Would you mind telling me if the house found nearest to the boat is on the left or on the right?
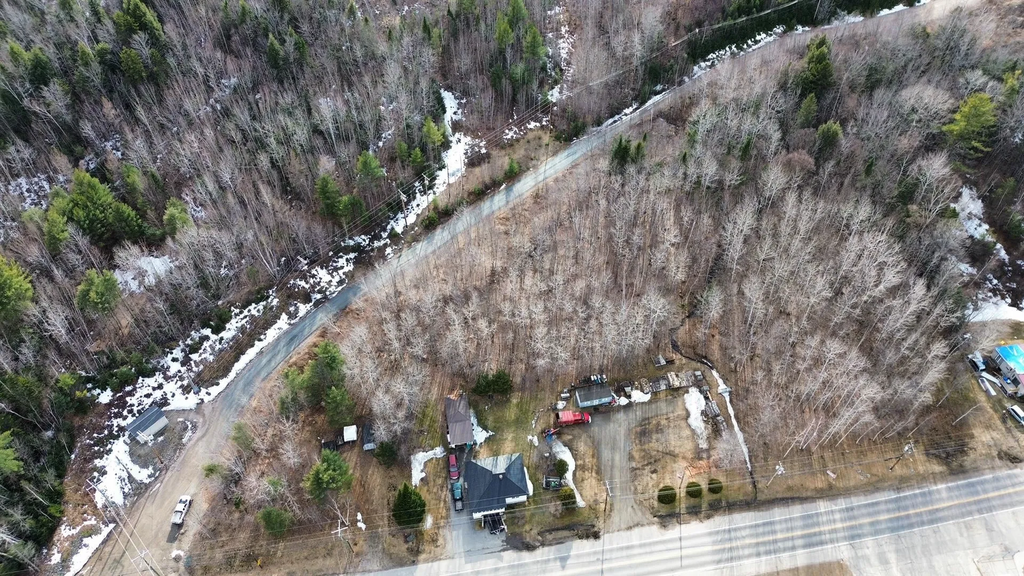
right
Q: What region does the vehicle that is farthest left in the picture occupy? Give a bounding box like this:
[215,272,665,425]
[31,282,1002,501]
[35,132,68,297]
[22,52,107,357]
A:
[167,495,190,526]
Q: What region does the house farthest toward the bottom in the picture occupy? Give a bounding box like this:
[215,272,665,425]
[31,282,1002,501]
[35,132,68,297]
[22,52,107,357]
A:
[465,453,529,525]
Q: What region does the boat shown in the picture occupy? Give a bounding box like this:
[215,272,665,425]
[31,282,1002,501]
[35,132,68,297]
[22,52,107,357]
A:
[980,378,997,394]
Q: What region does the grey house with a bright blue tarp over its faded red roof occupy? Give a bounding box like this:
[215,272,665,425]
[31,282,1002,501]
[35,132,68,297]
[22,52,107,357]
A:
[991,341,1024,403]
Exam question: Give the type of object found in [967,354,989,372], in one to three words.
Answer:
car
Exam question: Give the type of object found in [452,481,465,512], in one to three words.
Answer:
vehicle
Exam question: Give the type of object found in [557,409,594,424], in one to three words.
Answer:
vehicle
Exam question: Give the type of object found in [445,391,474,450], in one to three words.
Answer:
building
